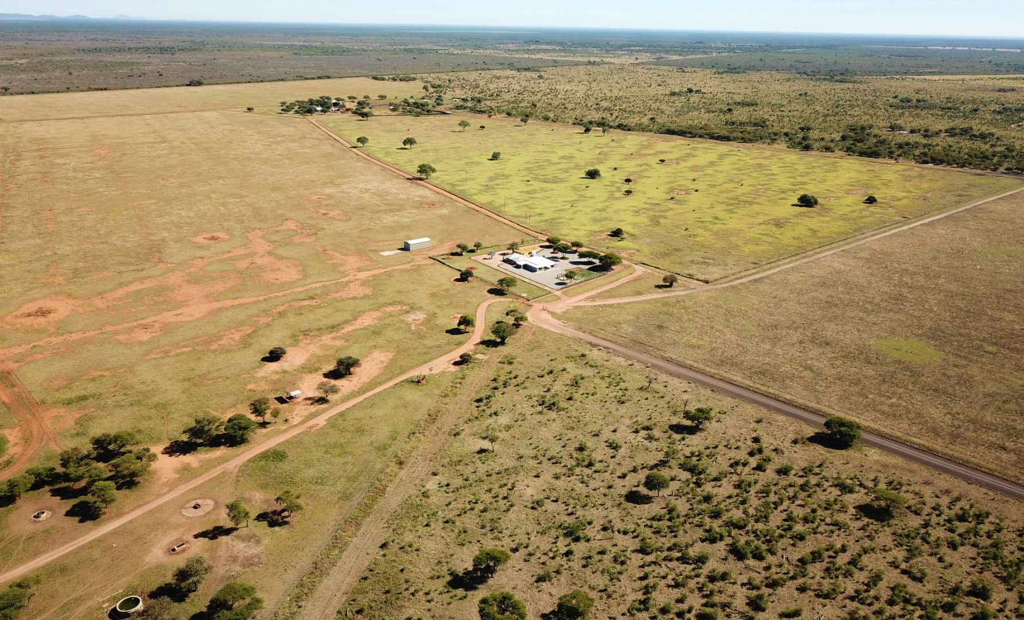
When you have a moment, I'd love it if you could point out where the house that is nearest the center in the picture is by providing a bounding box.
[506,253,555,272]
